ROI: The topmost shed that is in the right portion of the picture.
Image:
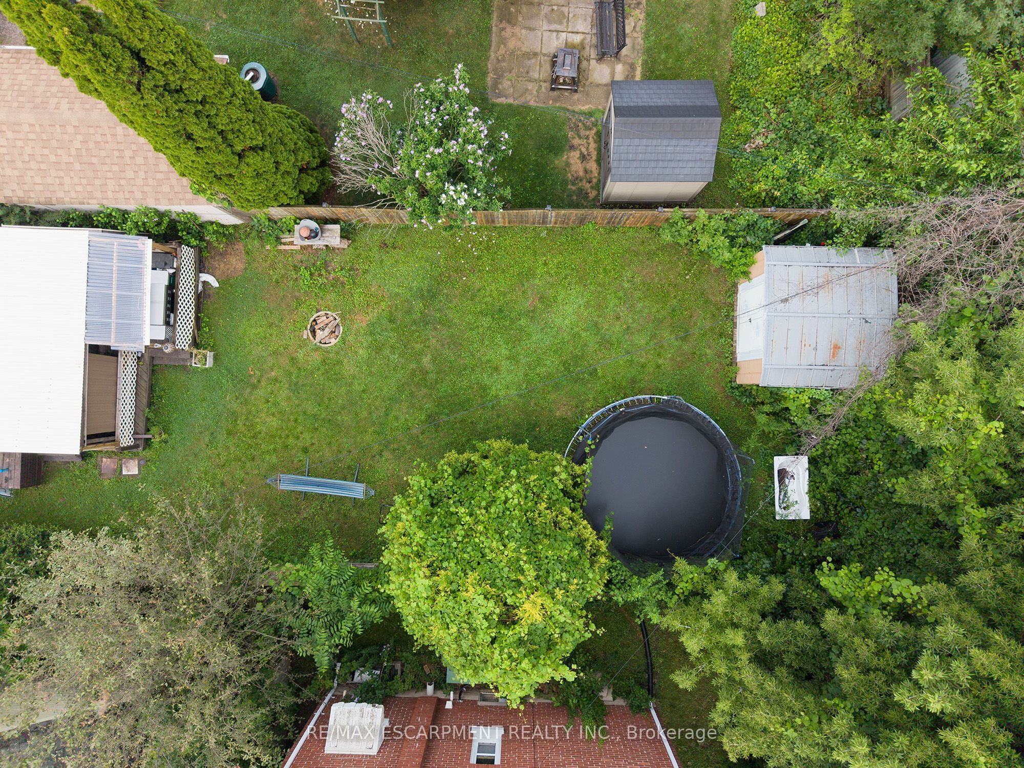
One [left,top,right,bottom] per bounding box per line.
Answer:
[599,79,724,204]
